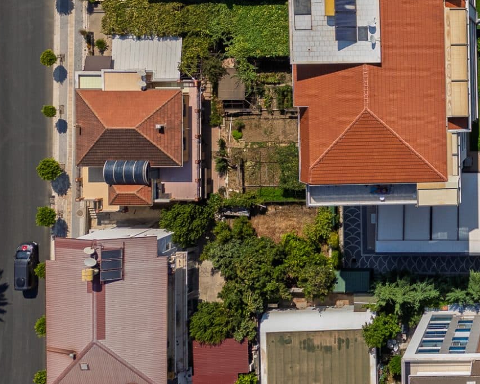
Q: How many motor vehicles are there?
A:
1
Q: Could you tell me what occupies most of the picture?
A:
buildings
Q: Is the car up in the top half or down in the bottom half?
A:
bottom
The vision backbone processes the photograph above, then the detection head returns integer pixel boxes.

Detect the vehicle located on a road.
[12,245,40,290]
